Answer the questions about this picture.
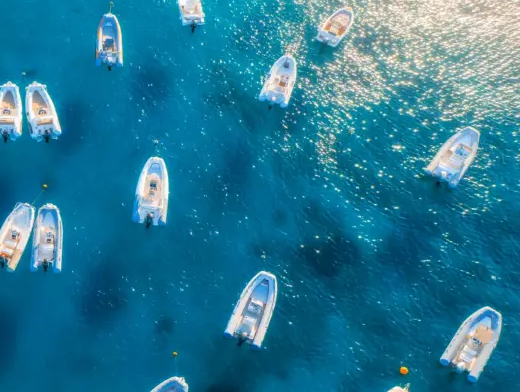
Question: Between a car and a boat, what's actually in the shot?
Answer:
boat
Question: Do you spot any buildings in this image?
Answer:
No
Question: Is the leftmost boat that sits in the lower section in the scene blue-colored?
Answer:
No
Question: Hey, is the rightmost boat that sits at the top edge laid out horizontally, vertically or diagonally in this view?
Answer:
diagonally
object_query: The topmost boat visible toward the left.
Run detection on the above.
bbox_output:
[177,0,205,31]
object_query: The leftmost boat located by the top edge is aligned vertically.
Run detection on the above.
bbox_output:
[95,14,123,72]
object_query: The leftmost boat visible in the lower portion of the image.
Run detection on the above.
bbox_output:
[0,201,34,274]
